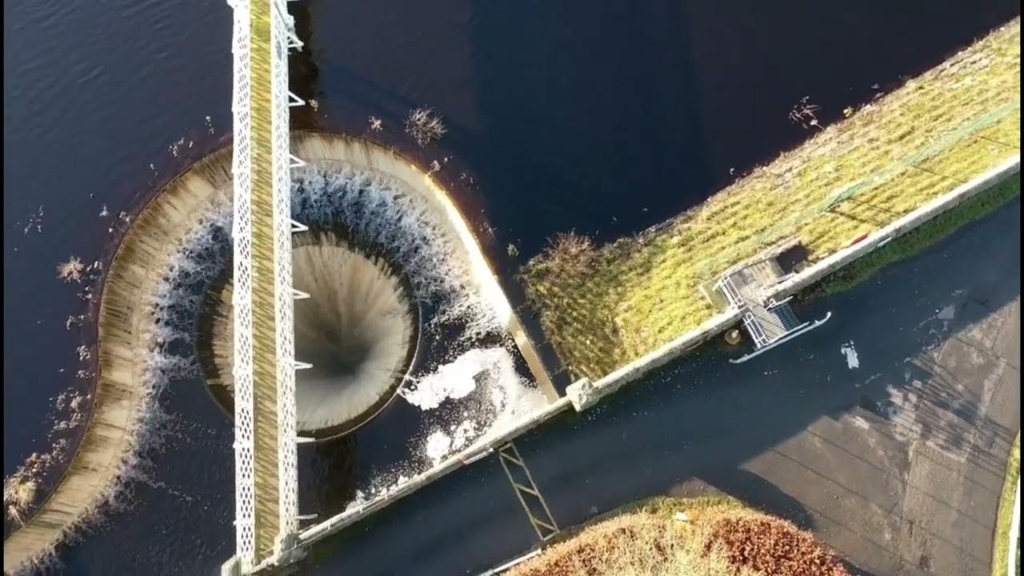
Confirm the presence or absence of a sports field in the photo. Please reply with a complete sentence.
No, the picture doesn't show any sports field.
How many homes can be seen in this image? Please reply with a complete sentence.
There are no homes in this view.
